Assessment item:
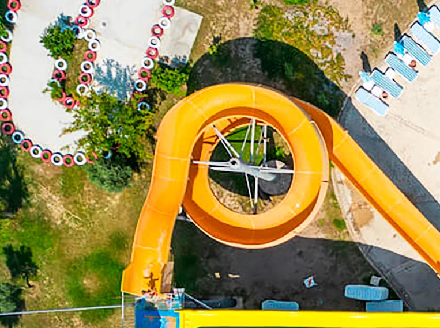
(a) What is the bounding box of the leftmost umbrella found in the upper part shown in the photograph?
[358,69,375,90]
